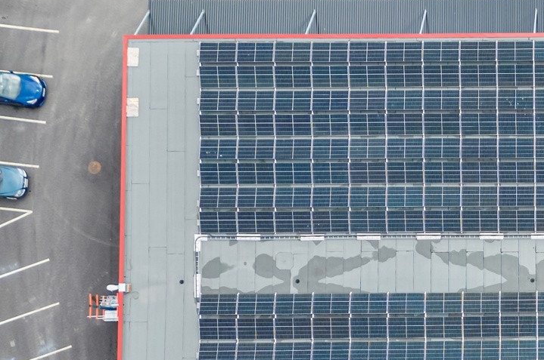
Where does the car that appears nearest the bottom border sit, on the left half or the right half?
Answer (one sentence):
It is on the left.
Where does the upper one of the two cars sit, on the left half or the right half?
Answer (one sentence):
The upper one of the two cars appears in the left half of the scene.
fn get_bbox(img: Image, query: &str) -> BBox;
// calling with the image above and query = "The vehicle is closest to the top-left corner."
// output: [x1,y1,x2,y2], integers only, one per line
[0,65,51,109]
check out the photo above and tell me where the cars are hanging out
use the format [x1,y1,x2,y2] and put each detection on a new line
[0,65,51,109]
[0,164,32,201]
